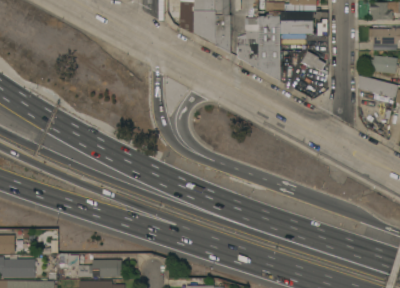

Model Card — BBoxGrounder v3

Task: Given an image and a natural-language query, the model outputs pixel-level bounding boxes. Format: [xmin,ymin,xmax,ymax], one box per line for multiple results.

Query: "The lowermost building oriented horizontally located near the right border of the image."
[358,75,400,100]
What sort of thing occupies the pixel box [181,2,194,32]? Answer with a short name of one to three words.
building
